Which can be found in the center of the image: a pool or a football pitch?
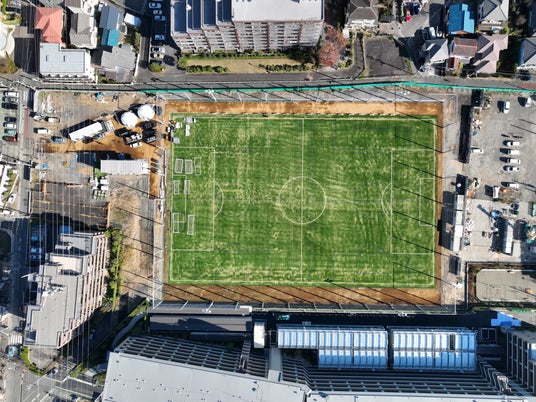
football pitch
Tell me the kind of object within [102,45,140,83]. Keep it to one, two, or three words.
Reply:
house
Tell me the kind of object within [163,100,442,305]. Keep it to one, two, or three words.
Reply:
soccer field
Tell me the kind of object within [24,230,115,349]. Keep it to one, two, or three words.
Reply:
building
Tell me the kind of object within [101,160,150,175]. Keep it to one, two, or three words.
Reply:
building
